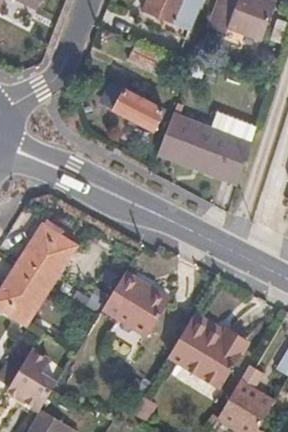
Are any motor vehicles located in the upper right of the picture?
No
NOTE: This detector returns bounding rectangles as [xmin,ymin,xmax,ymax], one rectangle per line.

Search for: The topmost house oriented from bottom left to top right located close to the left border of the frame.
[0,219,79,328]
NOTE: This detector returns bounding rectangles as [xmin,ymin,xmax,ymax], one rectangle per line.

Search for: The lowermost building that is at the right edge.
[216,364,276,432]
